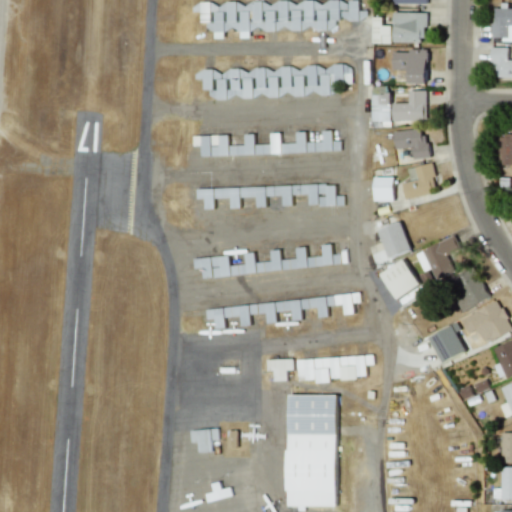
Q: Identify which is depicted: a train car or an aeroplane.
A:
aeroplane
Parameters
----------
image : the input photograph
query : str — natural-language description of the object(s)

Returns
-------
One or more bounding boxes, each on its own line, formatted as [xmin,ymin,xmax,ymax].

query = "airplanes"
[198,321,222,340]
[312,34,336,55]
[242,424,266,442]
[224,248,248,266]
[222,320,246,338]
[276,314,299,330]
[262,494,282,512]
[180,492,204,510]
[370,144,386,164]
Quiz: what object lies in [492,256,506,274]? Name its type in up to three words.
vehicle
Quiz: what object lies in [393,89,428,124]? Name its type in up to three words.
house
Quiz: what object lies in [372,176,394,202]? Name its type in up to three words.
hangar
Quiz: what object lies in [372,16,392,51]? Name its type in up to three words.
building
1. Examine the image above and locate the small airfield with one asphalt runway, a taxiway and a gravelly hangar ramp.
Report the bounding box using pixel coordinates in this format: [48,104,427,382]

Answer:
[51,0,403,512]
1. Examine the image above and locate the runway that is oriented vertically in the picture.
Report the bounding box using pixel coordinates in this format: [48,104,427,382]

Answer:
[51,112,103,512]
